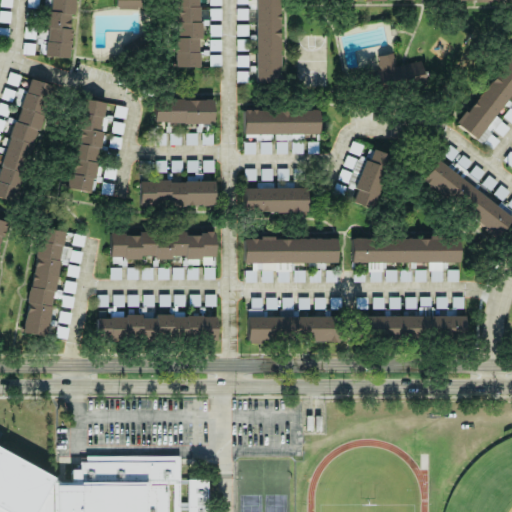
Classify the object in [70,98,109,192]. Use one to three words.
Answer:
building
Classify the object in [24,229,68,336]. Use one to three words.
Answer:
building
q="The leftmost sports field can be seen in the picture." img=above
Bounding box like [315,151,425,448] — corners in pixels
[316,446,420,512]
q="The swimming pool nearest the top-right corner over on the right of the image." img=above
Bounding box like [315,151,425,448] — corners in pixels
[336,22,394,73]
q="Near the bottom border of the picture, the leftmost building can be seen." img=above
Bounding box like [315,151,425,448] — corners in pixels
[0,446,58,512]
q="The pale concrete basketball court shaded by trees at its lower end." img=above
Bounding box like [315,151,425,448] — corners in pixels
[299,34,327,87]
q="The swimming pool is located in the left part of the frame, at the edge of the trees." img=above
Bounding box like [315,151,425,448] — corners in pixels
[92,9,144,62]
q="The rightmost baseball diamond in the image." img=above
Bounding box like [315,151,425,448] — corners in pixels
[446,438,512,512]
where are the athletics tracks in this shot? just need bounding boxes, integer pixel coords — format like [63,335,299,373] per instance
[308,439,429,512]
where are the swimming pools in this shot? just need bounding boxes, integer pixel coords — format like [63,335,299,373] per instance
[336,22,394,73]
[92,9,144,62]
